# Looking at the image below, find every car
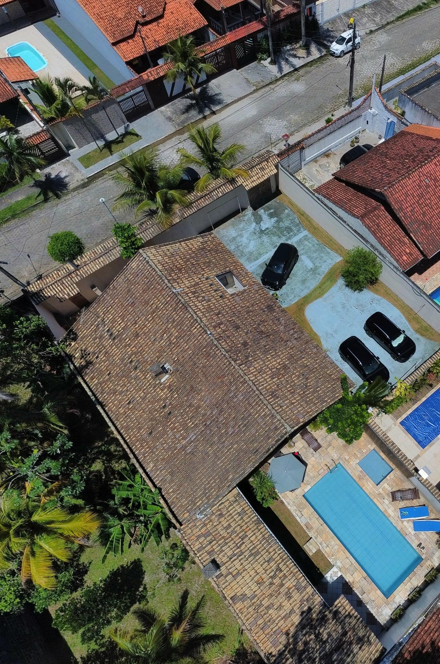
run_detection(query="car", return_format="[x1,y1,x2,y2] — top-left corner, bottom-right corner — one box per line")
[362,312,418,365]
[329,148,363,181]
[331,26,364,58]
[337,336,395,391]
[261,236,299,292]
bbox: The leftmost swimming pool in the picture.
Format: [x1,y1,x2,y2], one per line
[4,39,52,72]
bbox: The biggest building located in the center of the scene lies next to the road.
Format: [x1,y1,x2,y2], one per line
[65,230,356,523]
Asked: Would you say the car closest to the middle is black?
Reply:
Yes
